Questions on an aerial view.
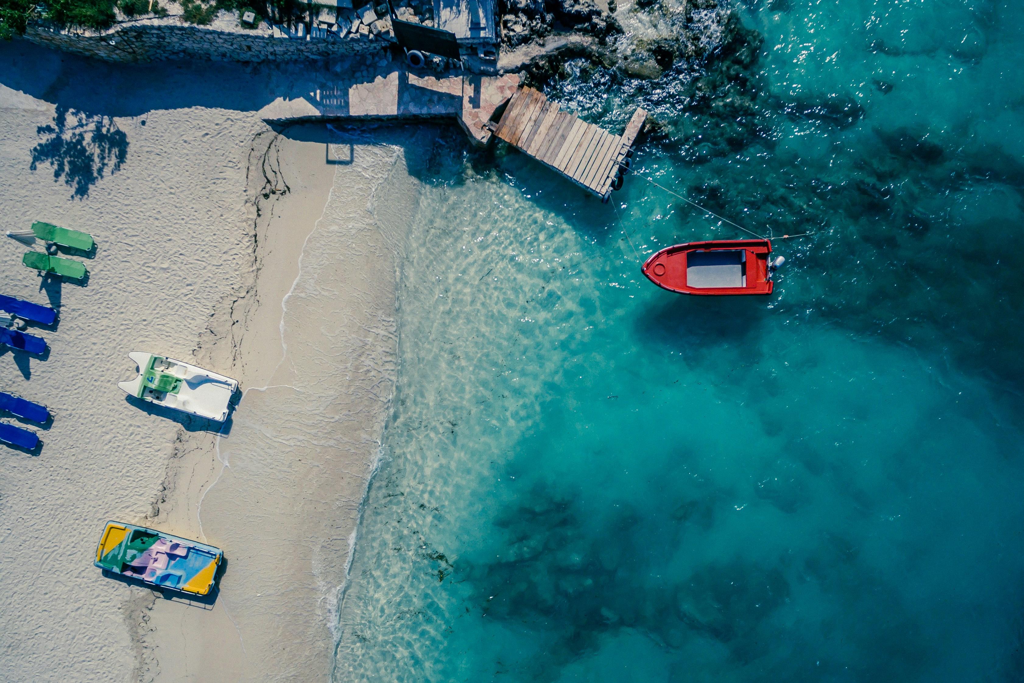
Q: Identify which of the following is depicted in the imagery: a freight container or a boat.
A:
boat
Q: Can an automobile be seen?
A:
No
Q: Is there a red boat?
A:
Yes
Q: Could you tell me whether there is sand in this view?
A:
Yes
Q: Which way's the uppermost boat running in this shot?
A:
horizontally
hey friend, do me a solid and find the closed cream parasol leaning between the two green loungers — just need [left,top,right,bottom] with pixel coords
[6,231,59,257]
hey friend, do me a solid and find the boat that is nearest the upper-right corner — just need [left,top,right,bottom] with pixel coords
[640,239,784,296]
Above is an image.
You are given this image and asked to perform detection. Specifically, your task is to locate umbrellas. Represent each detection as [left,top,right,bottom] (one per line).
[6,231,59,257]
[0,310,25,330]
